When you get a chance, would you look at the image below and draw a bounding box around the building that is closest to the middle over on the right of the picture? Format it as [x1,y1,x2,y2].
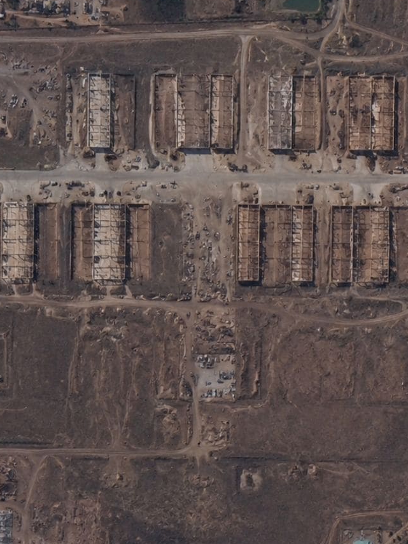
[237,205,259,281]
